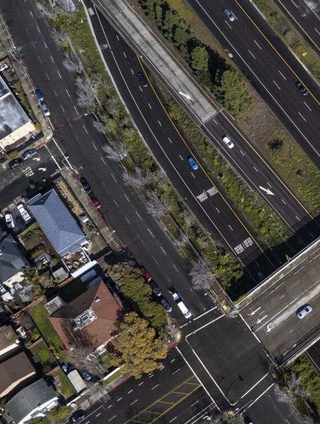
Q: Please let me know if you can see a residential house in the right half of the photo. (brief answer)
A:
No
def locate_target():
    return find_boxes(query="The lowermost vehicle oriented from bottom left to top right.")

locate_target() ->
[68,409,87,424]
